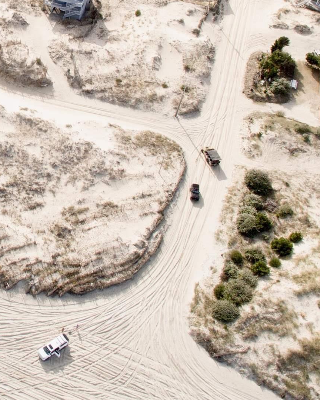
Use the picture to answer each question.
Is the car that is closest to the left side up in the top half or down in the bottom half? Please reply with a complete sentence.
You can find the car that is closest to the left side in the bottom half.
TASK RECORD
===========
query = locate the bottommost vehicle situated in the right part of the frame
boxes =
[190,179,202,200]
